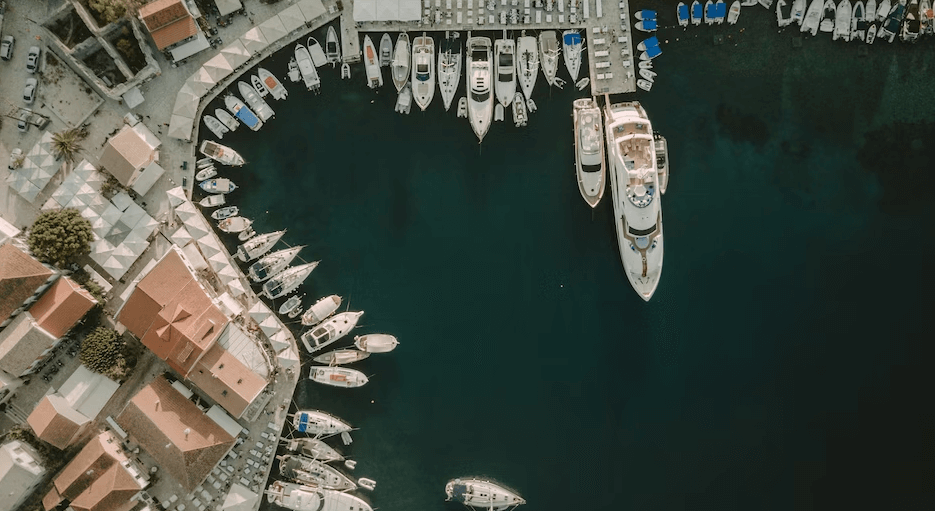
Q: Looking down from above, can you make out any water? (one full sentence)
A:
Yes, water can be seen from above here.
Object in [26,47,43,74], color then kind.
gray car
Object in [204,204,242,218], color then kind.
gray boat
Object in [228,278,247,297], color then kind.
white umbrella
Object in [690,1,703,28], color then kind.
blue boat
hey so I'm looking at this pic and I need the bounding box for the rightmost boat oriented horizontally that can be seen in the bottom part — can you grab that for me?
[444,477,529,511]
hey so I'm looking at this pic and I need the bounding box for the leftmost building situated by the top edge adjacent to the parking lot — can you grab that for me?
[28,0,160,97]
